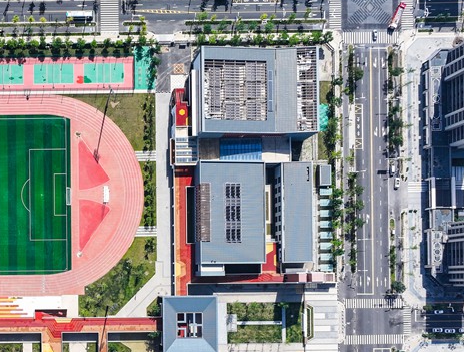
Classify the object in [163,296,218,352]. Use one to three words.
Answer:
building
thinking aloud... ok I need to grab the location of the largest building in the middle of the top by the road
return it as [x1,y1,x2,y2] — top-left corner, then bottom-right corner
[185,47,318,142]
